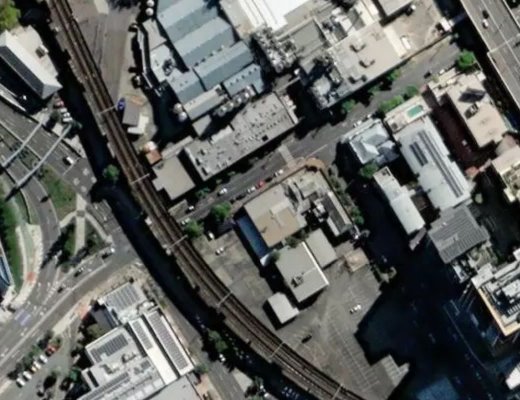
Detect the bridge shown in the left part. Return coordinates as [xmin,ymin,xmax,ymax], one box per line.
[46,0,364,400]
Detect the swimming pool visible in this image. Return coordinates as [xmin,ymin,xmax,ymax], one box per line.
[405,103,427,120]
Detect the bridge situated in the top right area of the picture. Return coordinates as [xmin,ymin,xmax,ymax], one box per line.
[460,0,520,104]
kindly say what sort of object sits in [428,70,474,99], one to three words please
house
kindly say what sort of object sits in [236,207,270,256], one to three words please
shed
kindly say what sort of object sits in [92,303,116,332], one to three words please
house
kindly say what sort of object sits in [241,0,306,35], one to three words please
building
